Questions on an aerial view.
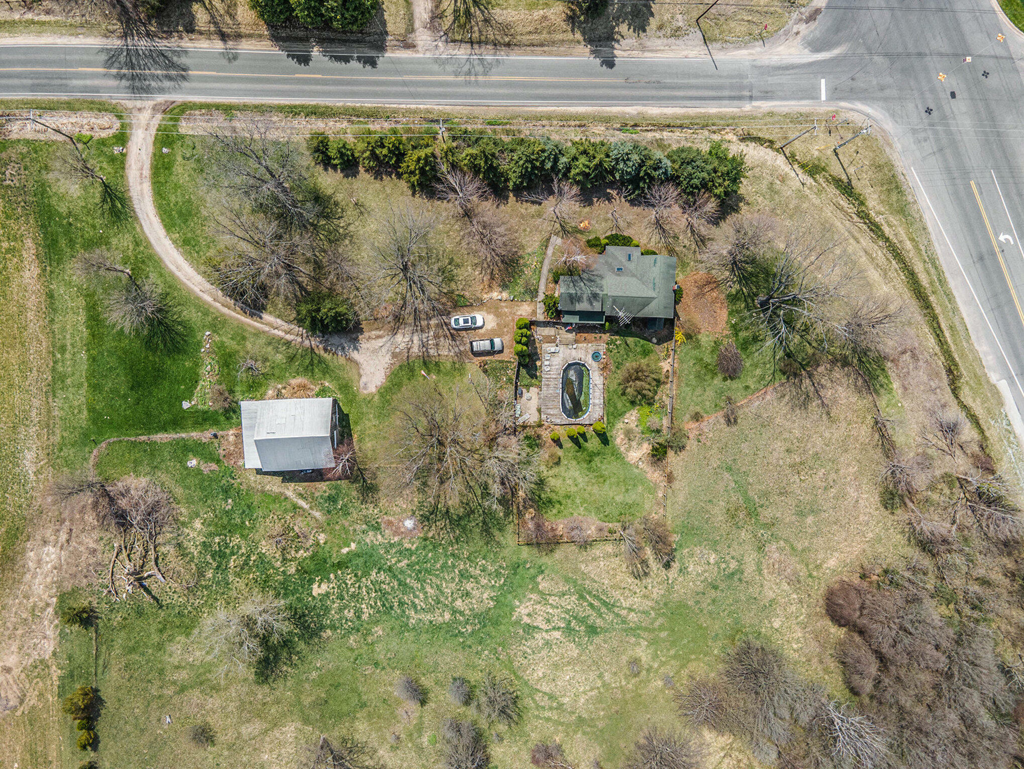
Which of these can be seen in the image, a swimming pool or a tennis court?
swimming pool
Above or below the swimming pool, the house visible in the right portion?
above it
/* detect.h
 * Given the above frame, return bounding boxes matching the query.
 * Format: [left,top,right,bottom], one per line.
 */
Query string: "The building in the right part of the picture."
[560,246,683,331]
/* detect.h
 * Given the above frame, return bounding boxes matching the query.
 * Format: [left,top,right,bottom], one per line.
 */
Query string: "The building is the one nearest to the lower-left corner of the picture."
[240,398,340,471]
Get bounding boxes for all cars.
[471,338,504,353]
[451,314,484,330]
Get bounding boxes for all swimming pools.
[560,362,592,419]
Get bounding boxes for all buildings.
[560,246,683,331]
[240,398,340,471]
